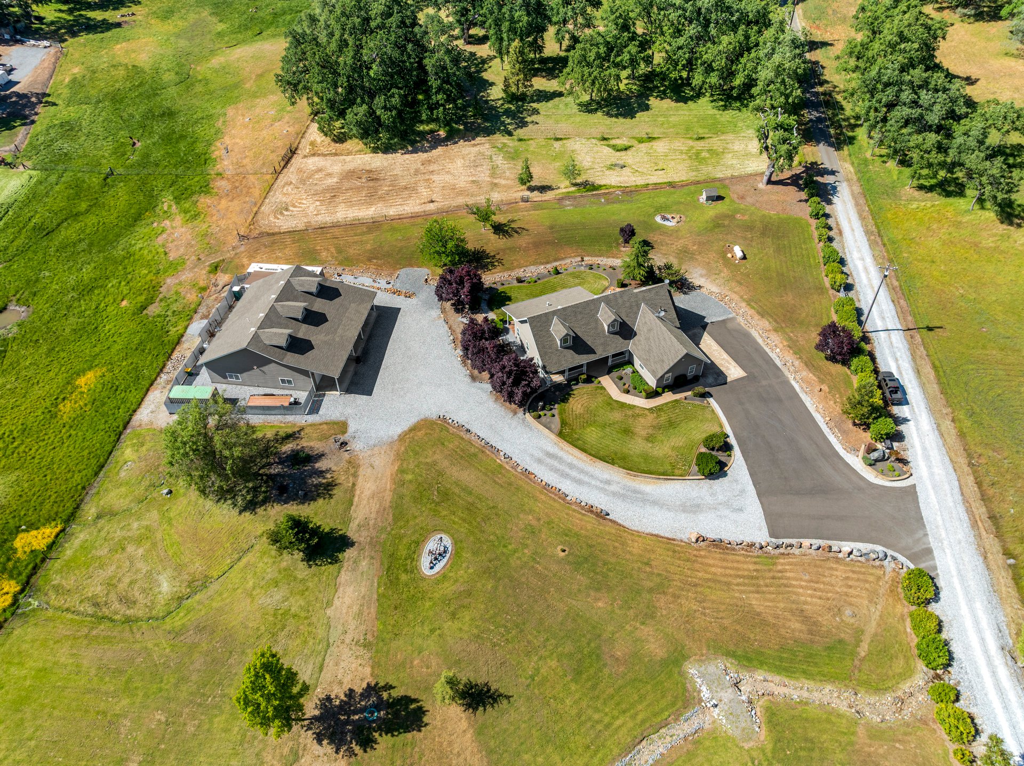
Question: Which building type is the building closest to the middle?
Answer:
house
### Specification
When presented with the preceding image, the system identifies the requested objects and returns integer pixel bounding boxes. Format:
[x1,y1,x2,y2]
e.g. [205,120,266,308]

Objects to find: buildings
[502,276,711,388]
[197,263,382,395]
[700,186,718,201]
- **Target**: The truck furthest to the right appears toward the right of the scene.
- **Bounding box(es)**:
[883,373,910,408]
